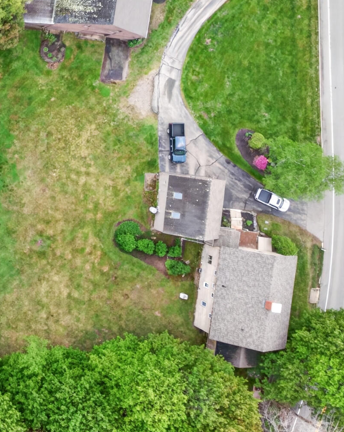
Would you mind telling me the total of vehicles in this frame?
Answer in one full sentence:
The count of vehicles comes to 2.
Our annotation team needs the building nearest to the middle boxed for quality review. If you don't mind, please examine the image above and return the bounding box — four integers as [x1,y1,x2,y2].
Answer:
[152,175,226,241]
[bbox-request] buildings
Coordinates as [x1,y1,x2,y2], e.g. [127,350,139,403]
[195,243,297,352]
[44,0,154,39]
[152,175,226,241]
